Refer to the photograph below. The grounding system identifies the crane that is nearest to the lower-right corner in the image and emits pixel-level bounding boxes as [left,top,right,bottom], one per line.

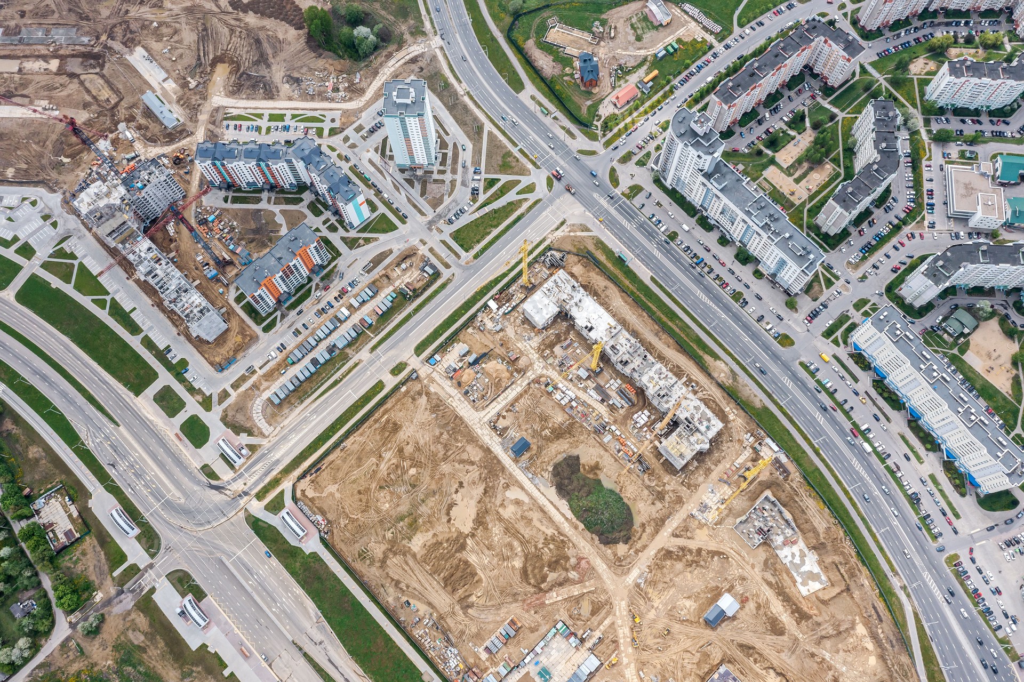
[712,445,782,518]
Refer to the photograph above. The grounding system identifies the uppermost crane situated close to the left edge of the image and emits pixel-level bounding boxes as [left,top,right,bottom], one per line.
[0,96,128,180]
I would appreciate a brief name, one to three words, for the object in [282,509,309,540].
building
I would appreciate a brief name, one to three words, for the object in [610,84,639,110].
house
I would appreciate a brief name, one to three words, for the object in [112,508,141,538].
building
